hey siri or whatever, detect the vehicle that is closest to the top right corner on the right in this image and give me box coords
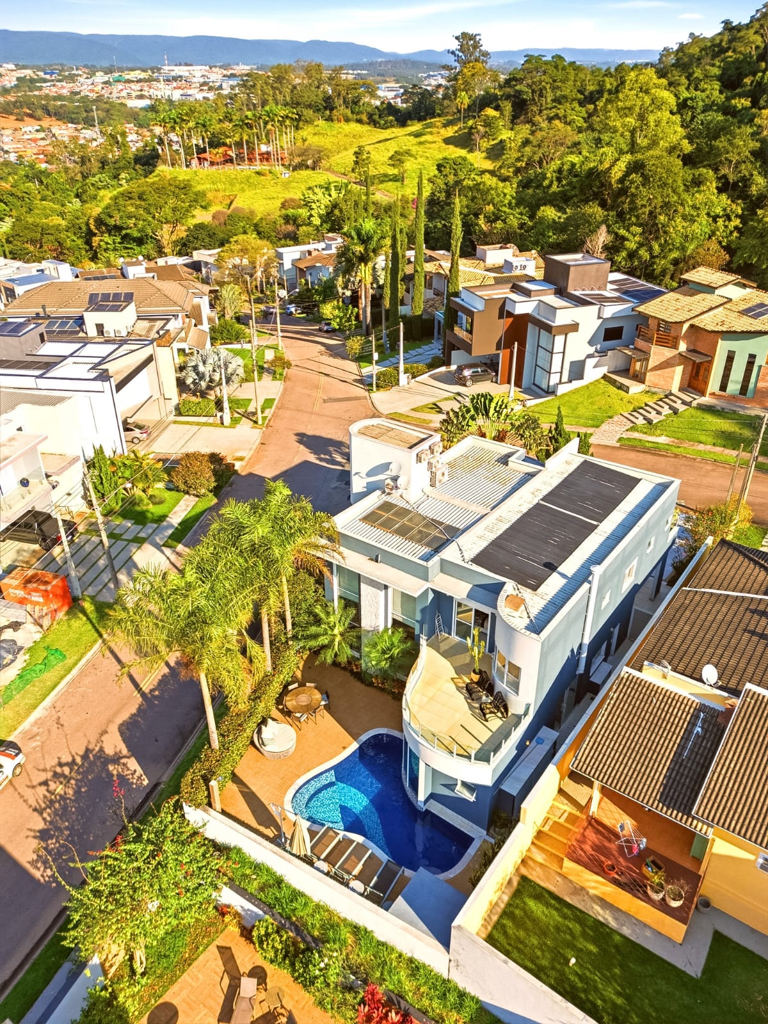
[452,367,500,389]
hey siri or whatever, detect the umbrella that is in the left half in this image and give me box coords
[273,807,306,853]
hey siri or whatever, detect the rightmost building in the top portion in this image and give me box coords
[619,264,768,410]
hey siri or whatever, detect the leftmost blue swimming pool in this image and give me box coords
[282,720,504,883]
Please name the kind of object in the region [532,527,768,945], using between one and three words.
house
